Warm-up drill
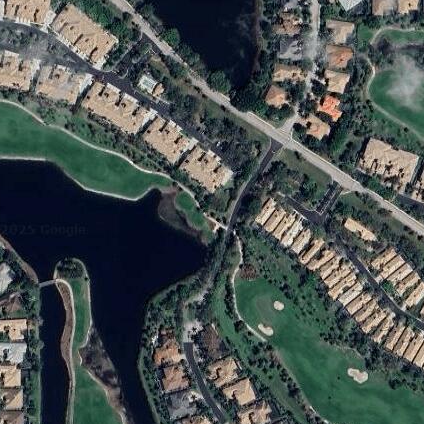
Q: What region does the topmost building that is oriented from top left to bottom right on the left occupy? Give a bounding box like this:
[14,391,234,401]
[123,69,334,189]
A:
[52,5,116,64]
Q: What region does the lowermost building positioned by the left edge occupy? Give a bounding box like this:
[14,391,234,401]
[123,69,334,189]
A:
[1,408,27,424]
